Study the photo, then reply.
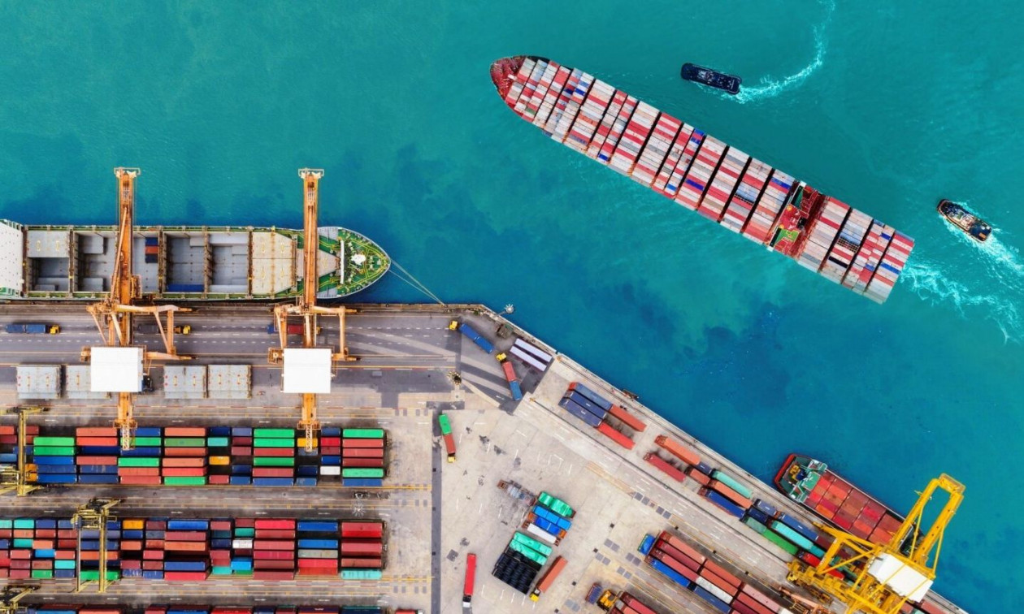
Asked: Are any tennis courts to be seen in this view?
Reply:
No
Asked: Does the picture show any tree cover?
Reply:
No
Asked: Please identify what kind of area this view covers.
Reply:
port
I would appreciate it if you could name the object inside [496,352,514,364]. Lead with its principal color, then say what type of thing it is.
yellow vehicle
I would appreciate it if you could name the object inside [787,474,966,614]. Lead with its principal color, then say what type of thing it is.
yellow container crane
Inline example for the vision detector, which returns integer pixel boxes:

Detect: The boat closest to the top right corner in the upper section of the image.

[935,199,995,246]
